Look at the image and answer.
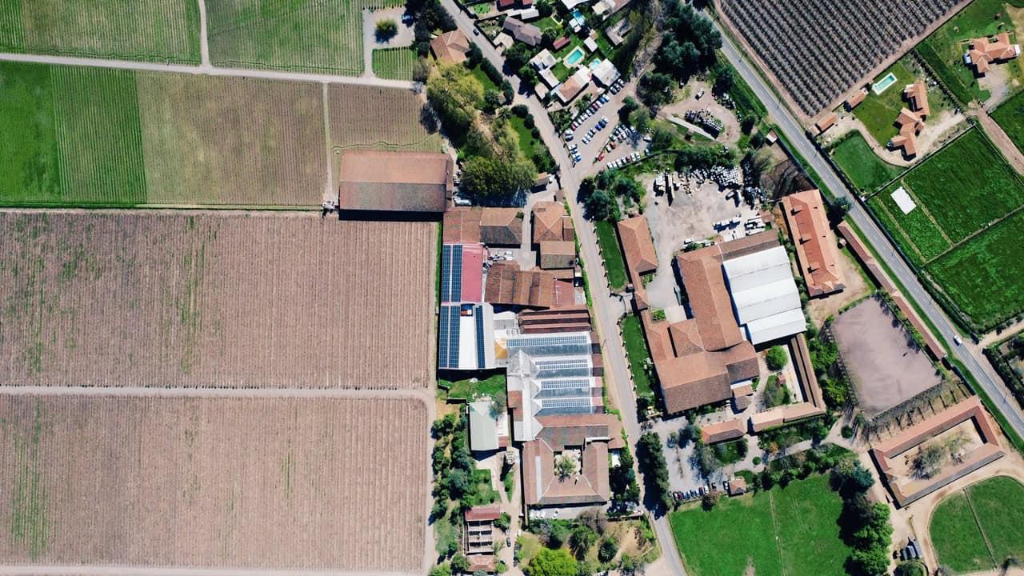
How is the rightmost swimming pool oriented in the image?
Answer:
at an angle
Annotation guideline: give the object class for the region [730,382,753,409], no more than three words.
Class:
shed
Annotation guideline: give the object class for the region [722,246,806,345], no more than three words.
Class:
building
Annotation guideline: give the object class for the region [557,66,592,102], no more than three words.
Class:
house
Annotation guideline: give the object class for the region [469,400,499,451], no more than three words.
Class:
barn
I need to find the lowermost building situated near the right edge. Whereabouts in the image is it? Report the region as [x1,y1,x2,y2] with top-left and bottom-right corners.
[869,396,1006,507]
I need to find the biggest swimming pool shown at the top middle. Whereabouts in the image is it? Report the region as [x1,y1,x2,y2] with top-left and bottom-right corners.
[563,47,585,67]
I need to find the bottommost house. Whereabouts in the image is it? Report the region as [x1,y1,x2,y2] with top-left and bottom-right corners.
[466,553,495,571]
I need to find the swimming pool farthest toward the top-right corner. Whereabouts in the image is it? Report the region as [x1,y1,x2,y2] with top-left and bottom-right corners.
[871,73,897,95]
